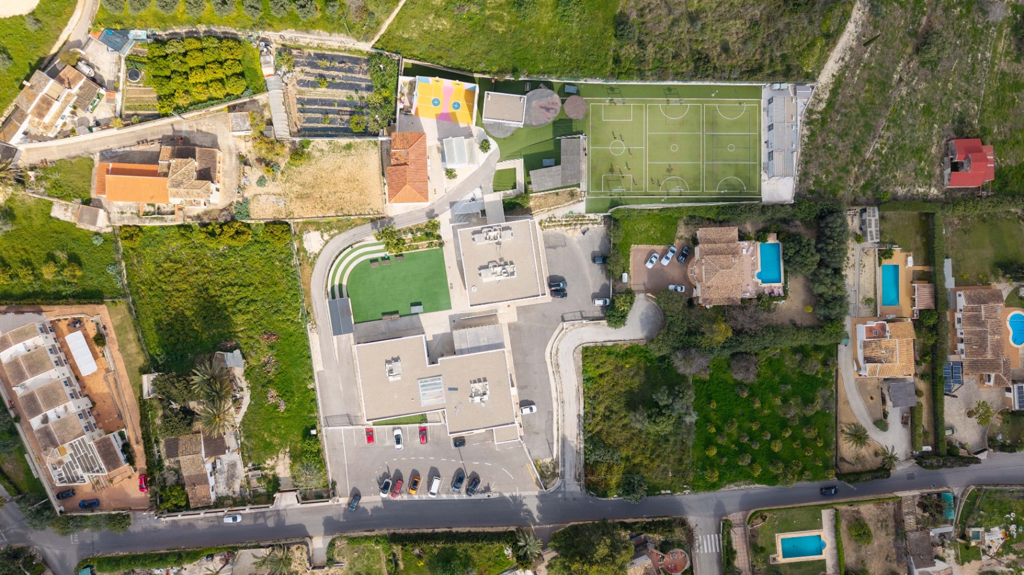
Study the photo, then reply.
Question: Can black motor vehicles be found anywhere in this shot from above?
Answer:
Yes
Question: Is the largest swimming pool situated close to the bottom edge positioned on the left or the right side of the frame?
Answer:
right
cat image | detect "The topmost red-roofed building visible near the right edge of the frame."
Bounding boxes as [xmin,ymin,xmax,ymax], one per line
[938,138,995,194]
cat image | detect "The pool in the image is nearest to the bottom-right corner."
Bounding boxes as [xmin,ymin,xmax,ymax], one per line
[969,528,984,546]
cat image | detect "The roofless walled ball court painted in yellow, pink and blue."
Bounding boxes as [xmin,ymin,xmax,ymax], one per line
[412,75,479,128]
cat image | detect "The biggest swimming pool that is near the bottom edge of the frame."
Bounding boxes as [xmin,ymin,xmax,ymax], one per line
[770,530,828,564]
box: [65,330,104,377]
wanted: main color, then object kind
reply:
white tent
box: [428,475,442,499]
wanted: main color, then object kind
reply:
white vehicle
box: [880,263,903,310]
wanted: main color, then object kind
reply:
blue swimming pool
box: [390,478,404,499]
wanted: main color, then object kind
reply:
red car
